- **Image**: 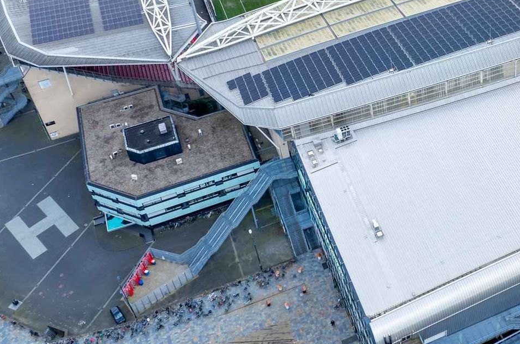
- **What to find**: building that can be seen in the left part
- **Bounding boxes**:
[77,85,261,228]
